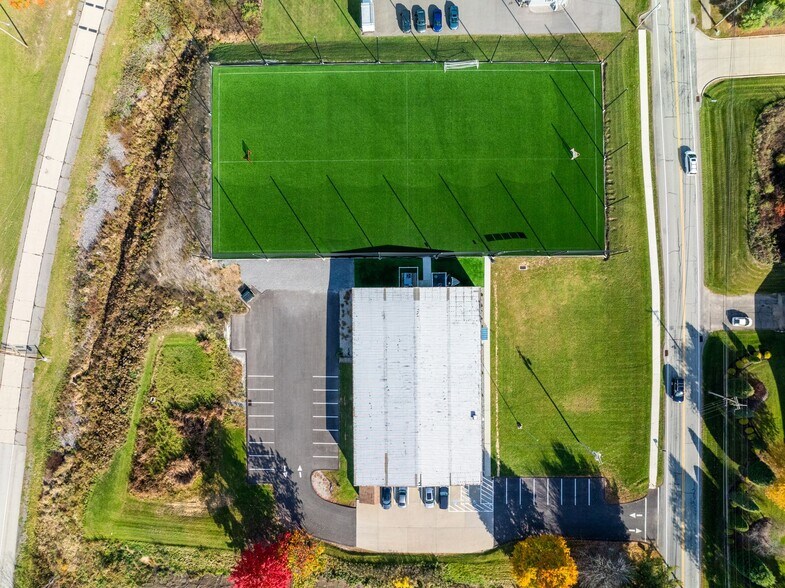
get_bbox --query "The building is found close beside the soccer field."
[353,288,484,488]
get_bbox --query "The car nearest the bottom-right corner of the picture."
[672,376,685,401]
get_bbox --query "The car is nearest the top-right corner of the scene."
[685,151,698,176]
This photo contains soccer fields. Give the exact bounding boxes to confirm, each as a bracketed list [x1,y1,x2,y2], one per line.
[211,61,606,256]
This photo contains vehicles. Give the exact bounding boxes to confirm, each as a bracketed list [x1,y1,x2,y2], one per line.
[728,316,750,327]
[424,487,435,507]
[414,8,425,32]
[396,487,407,508]
[685,151,698,176]
[672,376,685,401]
[382,487,392,508]
[448,4,459,29]
[438,487,449,508]
[432,7,442,31]
[362,0,375,29]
